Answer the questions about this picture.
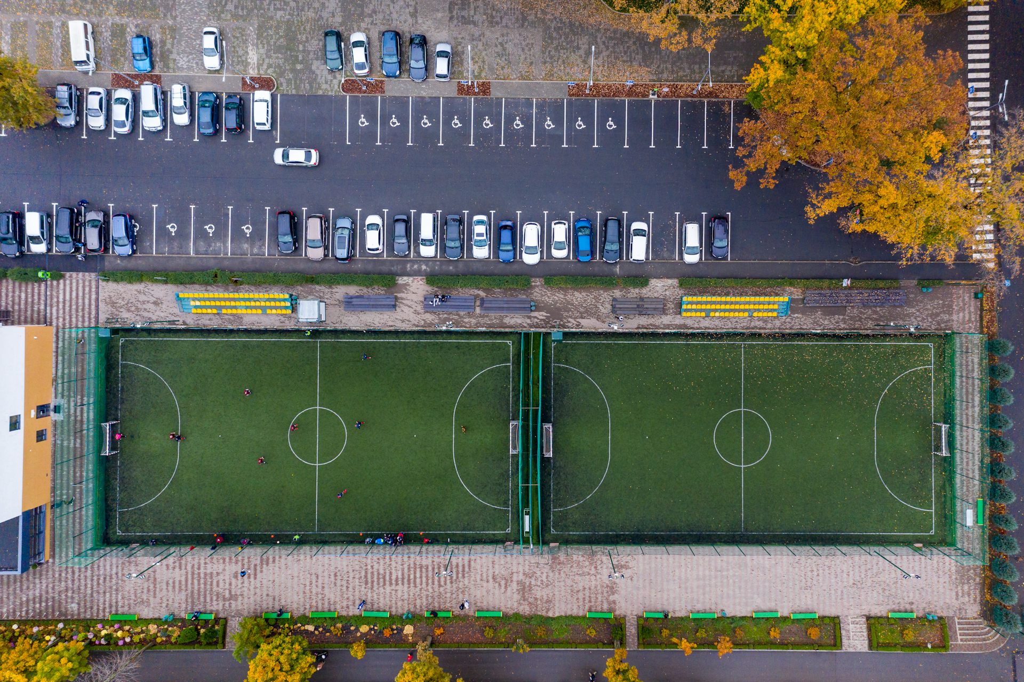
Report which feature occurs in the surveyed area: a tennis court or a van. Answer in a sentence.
I can see a van in this picture.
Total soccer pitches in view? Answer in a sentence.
Altogether the scene contains 2 soccer pitches.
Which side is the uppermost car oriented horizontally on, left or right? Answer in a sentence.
The uppermost car oriented horizontally sits on the left side.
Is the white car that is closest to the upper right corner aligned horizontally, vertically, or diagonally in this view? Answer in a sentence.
The white car that is closest to the upper right corner is oriented vertically.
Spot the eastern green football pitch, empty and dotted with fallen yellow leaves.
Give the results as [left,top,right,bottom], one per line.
[540,330,947,544]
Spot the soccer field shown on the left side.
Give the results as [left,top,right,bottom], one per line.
[101,330,521,544]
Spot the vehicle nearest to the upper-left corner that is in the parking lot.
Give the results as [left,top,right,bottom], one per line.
[63,18,98,72]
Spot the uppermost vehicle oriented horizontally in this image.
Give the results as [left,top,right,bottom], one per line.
[275,146,320,167]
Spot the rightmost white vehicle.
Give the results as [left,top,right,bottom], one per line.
[681,222,703,264]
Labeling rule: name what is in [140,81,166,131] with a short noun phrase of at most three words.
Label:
car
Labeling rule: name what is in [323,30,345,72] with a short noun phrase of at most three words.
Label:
car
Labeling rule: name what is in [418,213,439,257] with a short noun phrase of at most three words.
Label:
vehicle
